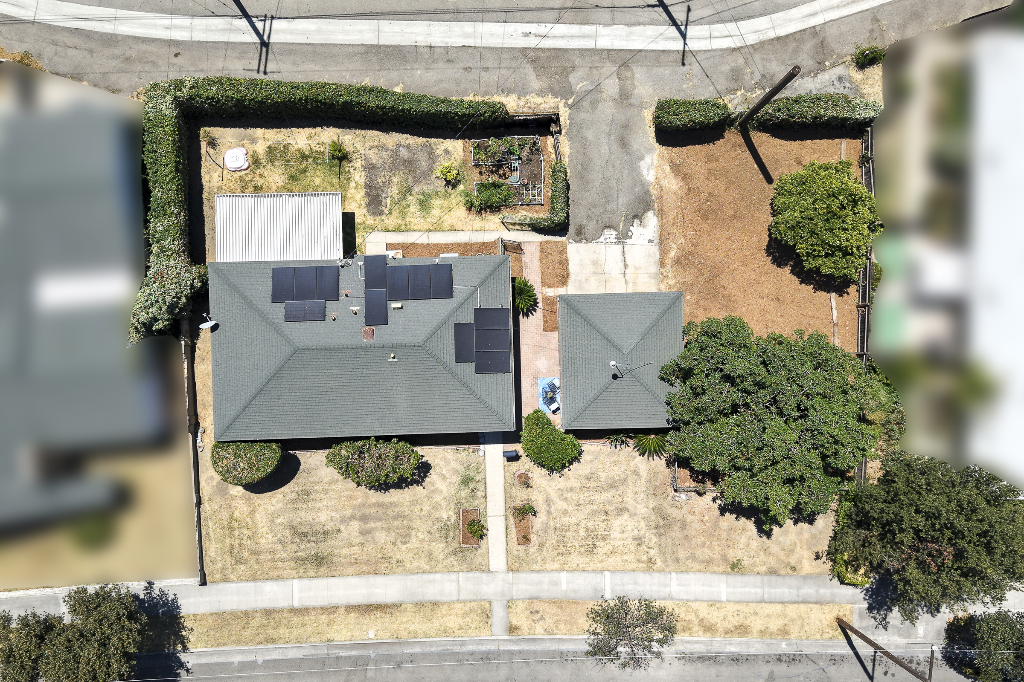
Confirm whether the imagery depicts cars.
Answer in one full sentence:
No, the picture doesn't show any car.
